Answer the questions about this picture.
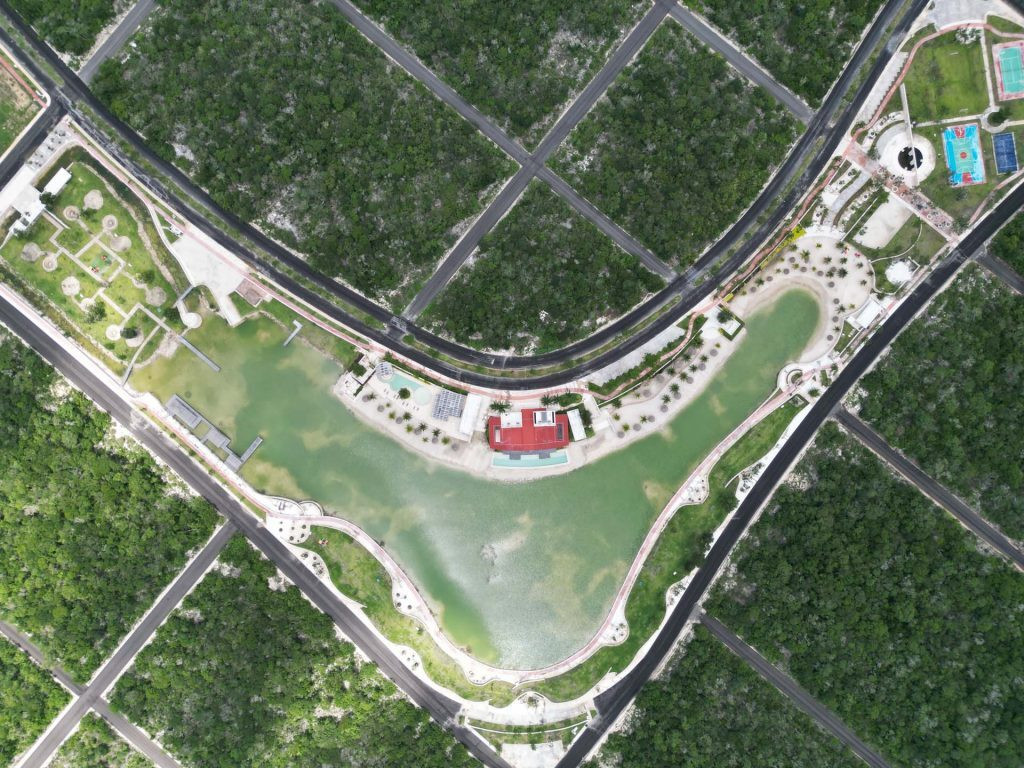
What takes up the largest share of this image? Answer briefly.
trees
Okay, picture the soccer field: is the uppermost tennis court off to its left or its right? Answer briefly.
on the right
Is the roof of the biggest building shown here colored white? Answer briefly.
No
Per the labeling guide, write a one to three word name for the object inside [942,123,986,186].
basketball court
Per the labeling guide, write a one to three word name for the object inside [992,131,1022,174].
sports court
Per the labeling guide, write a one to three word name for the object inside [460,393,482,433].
building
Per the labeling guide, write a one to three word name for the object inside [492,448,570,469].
swimming pool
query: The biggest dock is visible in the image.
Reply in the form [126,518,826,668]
[166,395,230,447]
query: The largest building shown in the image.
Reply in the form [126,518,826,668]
[489,408,569,460]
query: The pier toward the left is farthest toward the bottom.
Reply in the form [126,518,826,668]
[223,437,262,472]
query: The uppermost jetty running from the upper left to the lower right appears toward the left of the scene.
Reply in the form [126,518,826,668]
[179,335,221,372]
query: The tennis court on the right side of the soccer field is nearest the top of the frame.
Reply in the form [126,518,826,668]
[992,41,1024,101]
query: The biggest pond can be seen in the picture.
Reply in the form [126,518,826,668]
[129,289,820,671]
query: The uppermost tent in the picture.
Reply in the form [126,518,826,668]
[888,258,916,285]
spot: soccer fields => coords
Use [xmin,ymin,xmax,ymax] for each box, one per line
[905,40,989,125]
